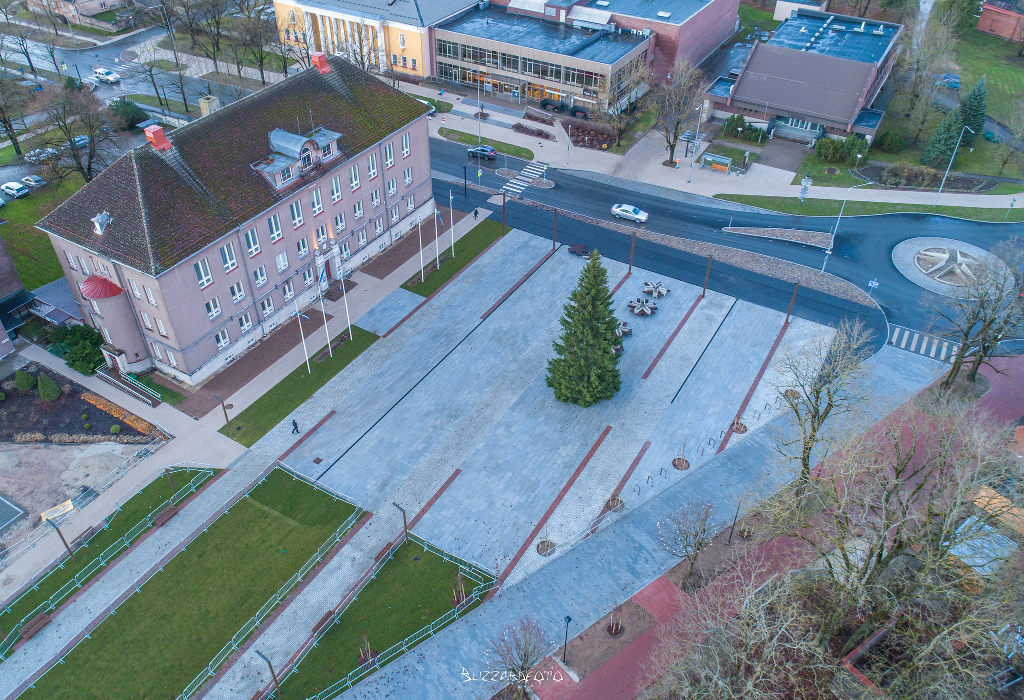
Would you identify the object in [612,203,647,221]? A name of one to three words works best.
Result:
car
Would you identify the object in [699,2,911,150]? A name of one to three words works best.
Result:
building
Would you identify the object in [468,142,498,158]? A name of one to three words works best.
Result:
car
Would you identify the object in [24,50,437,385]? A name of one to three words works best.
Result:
building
